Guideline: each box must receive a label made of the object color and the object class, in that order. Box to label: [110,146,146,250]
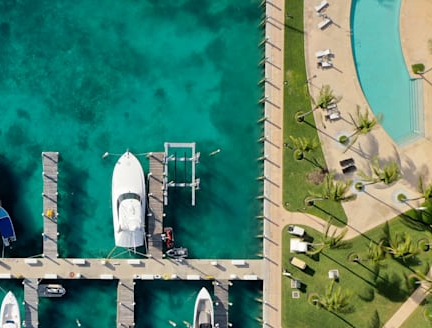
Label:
white boat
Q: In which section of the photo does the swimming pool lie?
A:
top right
